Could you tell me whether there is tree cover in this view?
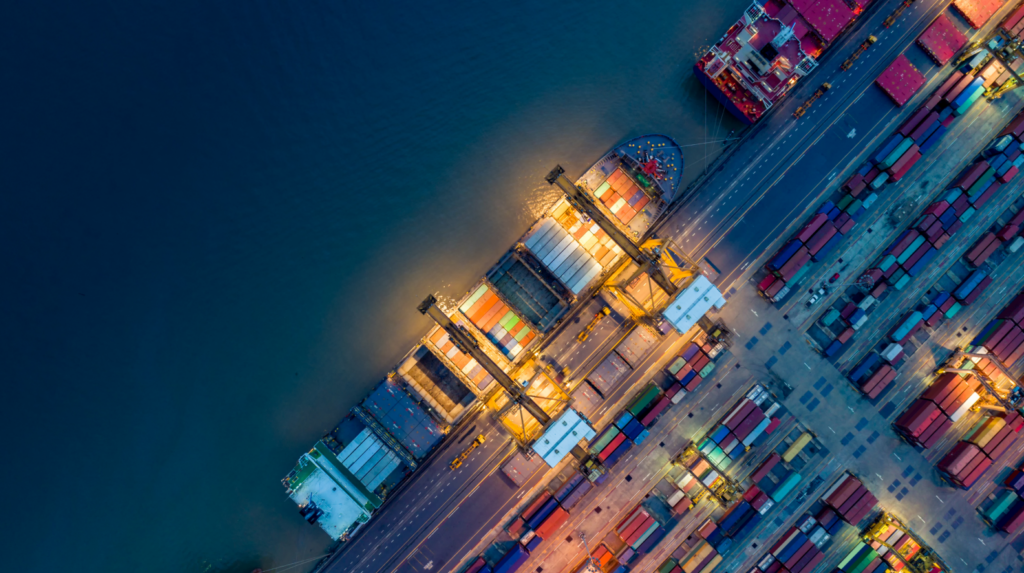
No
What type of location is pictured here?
port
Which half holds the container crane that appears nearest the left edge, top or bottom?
bottom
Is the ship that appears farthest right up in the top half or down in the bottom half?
top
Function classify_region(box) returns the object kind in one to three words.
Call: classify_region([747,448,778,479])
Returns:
shipping container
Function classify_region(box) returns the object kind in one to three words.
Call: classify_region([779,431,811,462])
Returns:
shipping container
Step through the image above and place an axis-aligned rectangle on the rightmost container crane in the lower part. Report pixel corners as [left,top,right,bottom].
[934,351,1024,413]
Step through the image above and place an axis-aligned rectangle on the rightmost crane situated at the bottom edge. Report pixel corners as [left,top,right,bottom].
[872,512,954,573]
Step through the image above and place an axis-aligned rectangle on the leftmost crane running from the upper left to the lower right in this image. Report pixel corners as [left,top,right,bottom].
[416,292,606,483]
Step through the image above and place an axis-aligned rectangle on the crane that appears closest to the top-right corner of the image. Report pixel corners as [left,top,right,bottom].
[950,22,1024,105]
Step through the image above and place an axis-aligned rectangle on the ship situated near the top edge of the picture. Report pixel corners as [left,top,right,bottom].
[692,0,872,124]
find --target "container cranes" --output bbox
[416,292,606,483]
[670,441,746,514]
[544,163,735,349]
[950,22,1024,105]
[872,512,954,573]
[934,351,1024,413]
